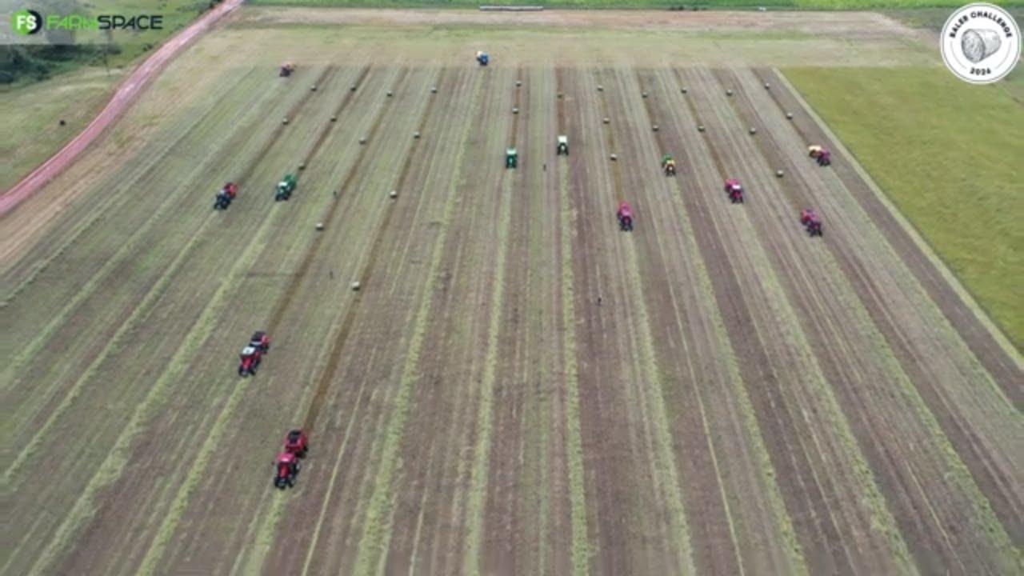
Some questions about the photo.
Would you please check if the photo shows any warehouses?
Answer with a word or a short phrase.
No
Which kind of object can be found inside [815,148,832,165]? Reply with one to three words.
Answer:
work vehicle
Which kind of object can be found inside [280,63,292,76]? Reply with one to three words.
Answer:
vehicle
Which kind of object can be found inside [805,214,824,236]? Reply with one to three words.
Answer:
work vehicle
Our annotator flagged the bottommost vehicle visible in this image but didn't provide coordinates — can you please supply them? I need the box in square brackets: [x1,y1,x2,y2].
[273,448,302,487]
